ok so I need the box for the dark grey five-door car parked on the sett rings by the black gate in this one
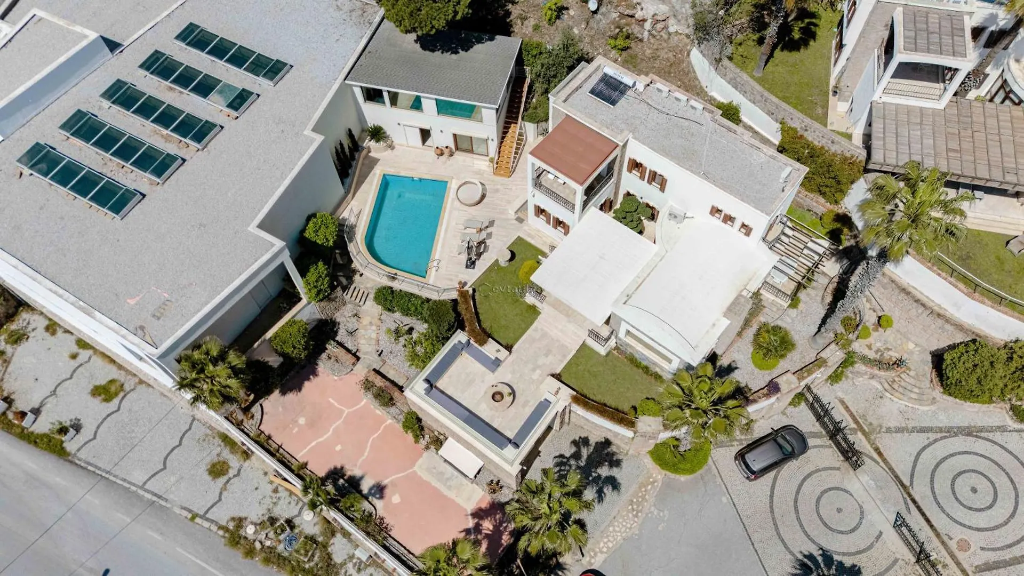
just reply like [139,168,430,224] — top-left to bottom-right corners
[735,430,809,483]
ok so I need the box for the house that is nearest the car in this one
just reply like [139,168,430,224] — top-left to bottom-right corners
[527,55,807,391]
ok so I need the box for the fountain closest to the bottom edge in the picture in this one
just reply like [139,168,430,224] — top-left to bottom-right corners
[486,383,513,409]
